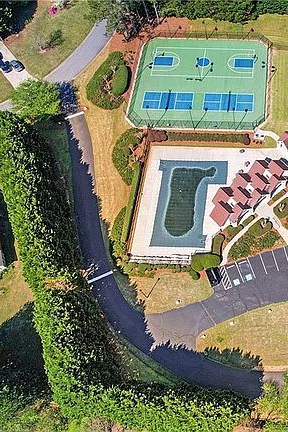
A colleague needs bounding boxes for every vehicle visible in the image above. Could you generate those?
[206,266,223,287]
[0,59,10,71]
[9,58,23,71]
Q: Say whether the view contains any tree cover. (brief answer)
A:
Yes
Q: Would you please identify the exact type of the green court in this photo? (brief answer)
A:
basketball court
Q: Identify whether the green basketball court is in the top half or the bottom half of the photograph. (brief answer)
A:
top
